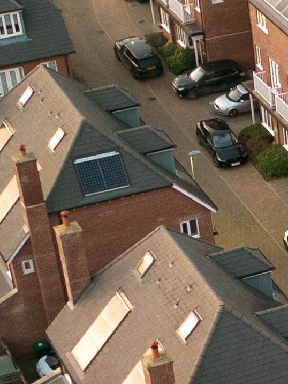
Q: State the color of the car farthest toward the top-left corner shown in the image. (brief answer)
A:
black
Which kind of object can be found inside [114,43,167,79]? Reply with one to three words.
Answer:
car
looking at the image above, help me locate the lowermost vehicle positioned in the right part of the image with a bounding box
[197,119,249,166]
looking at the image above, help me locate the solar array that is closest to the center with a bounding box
[74,150,135,202]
